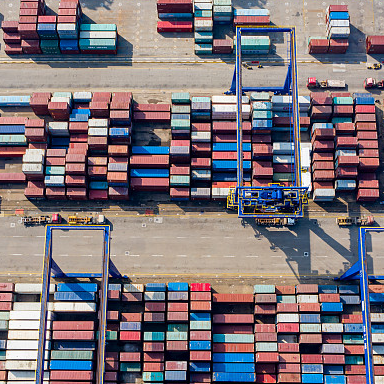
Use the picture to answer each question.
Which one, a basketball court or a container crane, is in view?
container crane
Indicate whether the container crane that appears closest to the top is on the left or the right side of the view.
right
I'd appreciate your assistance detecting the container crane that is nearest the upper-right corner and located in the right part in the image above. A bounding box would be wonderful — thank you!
[224,22,316,226]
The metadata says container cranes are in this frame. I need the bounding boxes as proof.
[224,22,316,226]
[334,222,384,384]
[32,221,127,384]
